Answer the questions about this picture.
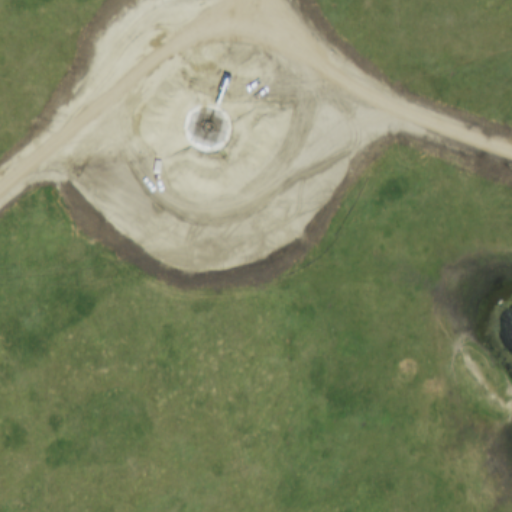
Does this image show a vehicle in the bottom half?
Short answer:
No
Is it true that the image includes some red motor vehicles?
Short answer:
No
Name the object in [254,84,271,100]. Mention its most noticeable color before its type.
white vehicle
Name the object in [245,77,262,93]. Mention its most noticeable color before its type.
white vehicle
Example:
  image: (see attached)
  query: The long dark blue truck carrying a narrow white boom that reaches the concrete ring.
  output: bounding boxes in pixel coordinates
[214,71,232,106]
